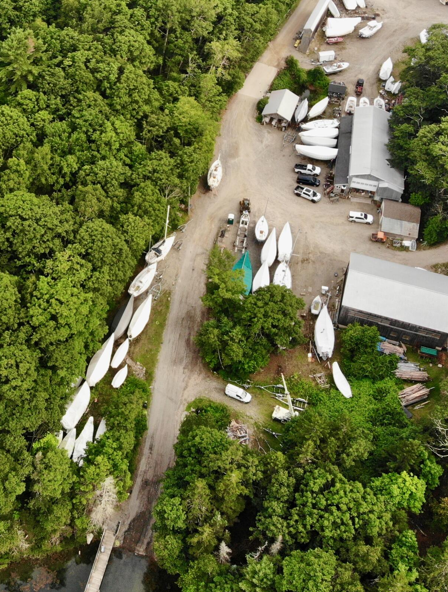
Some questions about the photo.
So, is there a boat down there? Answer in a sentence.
Yes, the image includes a boat.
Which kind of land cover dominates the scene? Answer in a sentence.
What you mostly see from above here is trees.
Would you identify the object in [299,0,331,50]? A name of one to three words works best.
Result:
shed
